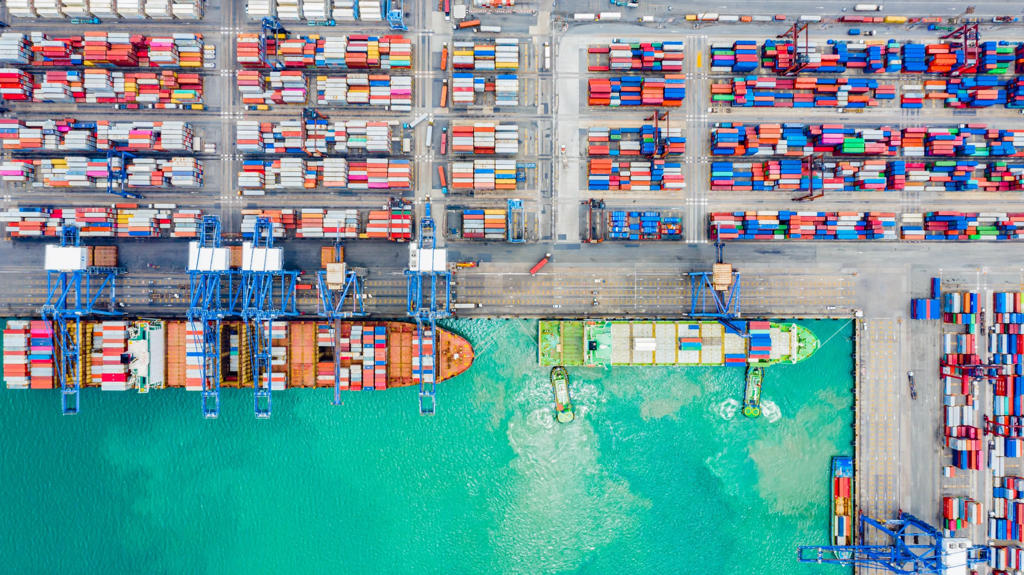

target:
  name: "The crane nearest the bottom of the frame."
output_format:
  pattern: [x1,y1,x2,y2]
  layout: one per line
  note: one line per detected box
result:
[796,508,992,575]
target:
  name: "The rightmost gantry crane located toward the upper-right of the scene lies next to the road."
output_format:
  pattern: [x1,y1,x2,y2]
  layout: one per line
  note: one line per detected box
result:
[938,24,980,76]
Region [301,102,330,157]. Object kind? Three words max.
container crane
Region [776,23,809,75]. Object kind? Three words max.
container crane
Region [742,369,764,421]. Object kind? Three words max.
boat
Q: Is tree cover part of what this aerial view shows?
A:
No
